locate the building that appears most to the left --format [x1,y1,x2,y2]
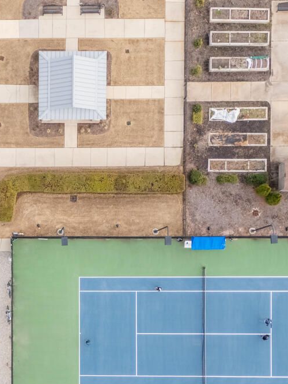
[38,51,107,123]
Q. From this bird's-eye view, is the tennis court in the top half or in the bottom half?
bottom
